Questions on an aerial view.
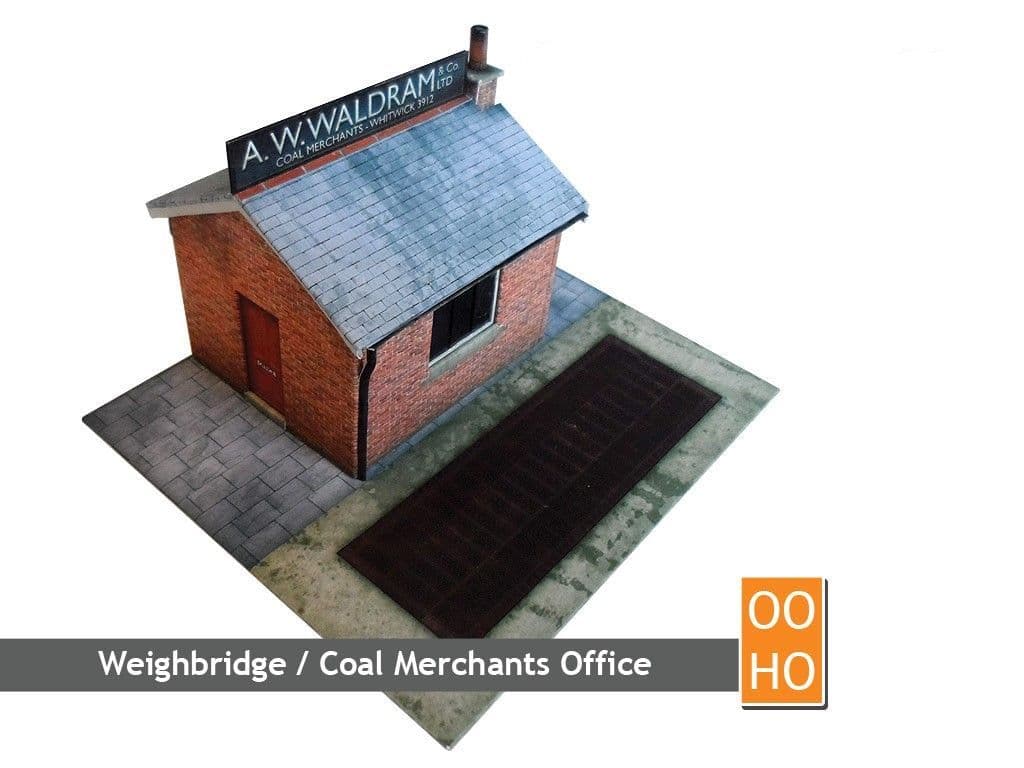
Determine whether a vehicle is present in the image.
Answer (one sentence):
No, no vehicle is visible in the scene.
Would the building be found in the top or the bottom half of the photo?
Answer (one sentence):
It is in the top half that the building appears.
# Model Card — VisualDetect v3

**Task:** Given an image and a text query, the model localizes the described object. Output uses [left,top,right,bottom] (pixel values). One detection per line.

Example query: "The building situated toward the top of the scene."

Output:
[146,51,593,479]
